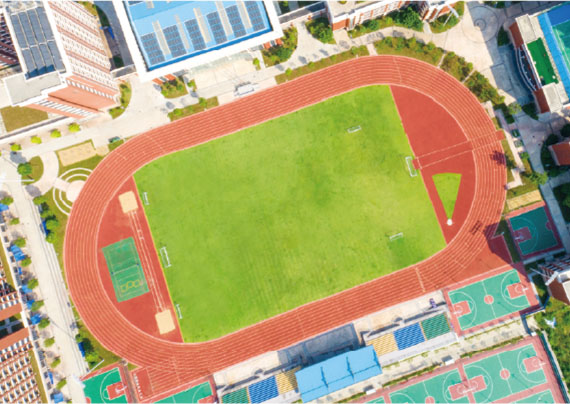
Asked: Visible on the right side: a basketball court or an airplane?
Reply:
basketball court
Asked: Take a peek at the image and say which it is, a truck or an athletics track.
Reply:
athletics track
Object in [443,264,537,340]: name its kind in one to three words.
basketball court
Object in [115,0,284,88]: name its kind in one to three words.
building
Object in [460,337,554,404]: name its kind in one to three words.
basketball court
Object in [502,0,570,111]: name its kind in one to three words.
building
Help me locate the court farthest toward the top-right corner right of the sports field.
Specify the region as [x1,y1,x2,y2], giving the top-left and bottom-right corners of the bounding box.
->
[538,2,570,122]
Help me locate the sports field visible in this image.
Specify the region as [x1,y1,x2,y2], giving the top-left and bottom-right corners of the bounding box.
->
[134,85,446,343]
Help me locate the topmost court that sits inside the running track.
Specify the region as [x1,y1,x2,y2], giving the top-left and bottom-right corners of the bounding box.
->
[102,238,149,302]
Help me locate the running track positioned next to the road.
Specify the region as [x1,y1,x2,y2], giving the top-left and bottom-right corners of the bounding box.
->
[64,53,517,402]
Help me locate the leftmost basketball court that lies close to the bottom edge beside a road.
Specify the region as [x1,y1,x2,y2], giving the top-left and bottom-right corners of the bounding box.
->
[81,364,135,404]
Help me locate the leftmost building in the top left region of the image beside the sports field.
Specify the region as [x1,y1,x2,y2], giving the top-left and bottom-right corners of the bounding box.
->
[0,0,123,128]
